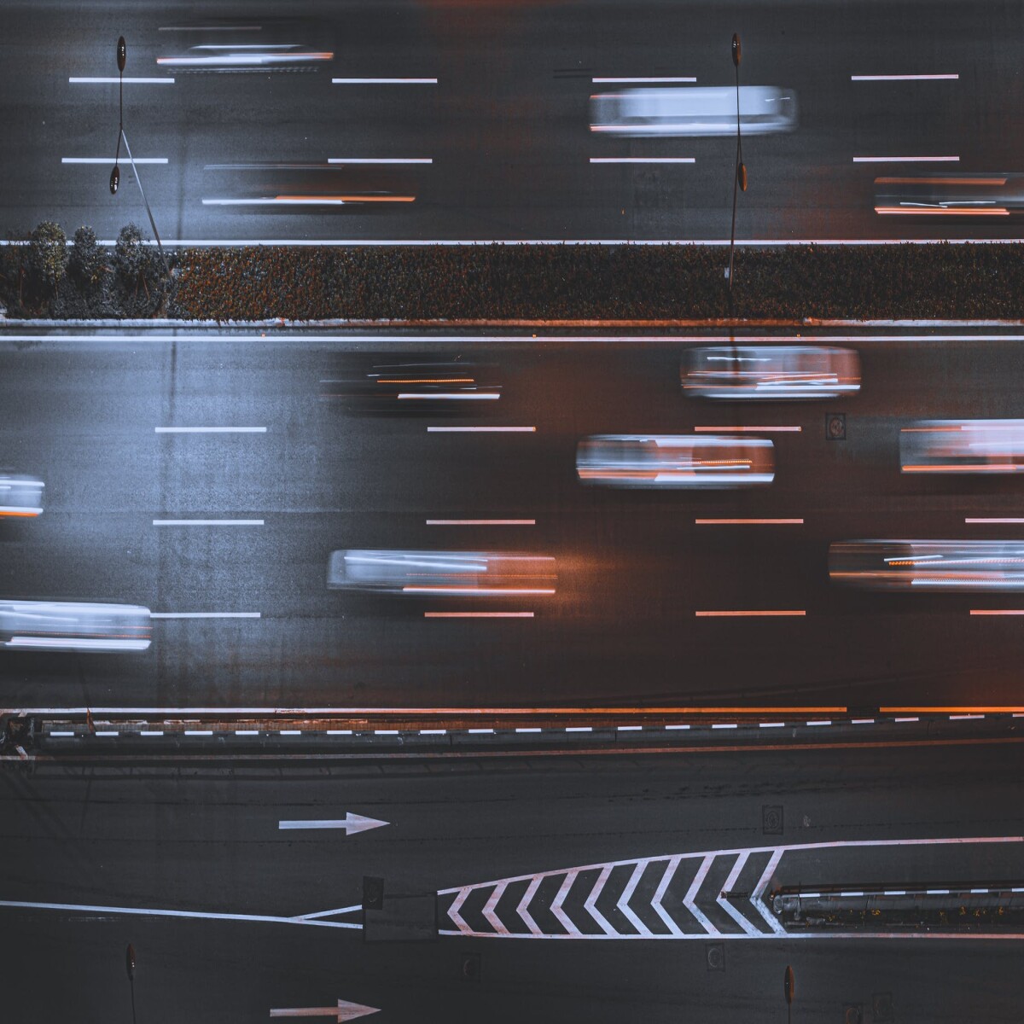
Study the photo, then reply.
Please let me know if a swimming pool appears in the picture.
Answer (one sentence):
No, the photo shows no swimming pool.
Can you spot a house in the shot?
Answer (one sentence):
No, the picture doesn't show any house.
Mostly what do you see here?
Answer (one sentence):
Most of the picture is covered by paved ground.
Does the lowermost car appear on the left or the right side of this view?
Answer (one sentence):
It is on the left.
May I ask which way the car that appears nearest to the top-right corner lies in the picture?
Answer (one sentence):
The car that appears nearest to the top-right corner has been laid out from left to right relative to the frame.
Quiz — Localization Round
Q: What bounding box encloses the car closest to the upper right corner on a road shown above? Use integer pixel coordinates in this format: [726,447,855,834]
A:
[877,162,1017,223]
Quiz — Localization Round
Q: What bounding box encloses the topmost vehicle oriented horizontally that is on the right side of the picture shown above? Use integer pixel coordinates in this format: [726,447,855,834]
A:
[608,72,778,138]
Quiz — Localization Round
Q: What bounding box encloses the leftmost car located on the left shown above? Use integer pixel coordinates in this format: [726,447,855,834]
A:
[0,469,40,523]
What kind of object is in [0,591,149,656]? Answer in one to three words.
car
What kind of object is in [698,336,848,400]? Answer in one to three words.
car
